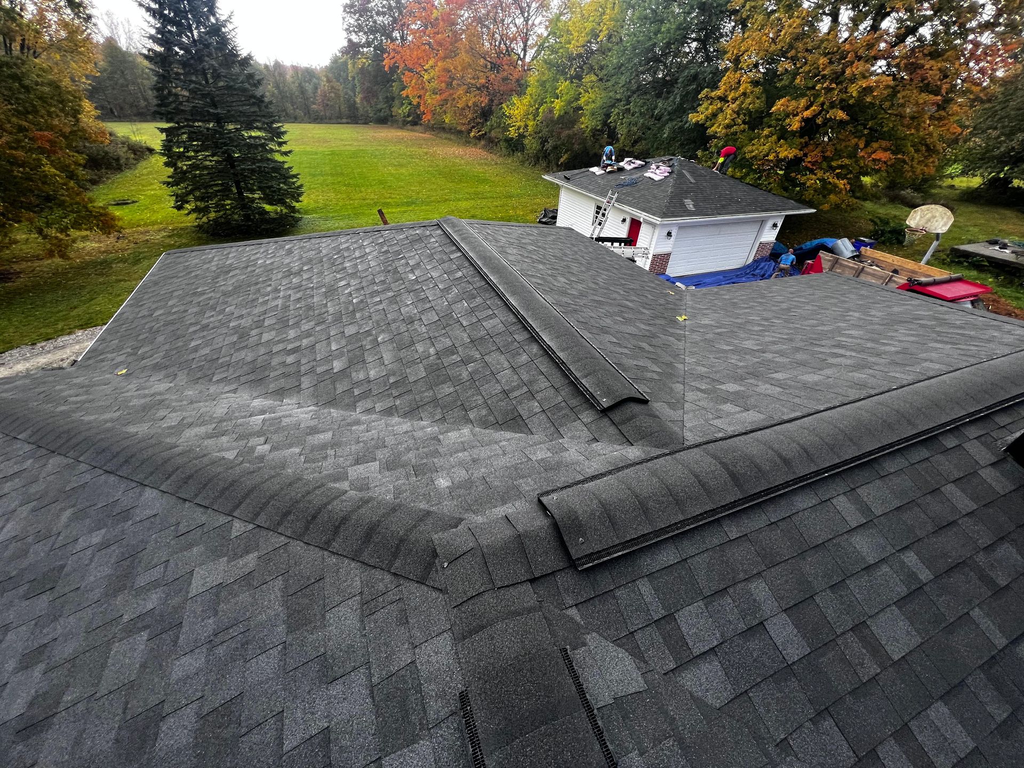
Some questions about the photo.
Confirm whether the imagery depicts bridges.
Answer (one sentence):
No, there isn't any bridge down there.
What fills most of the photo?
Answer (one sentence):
Most of the picture is covered by buildings.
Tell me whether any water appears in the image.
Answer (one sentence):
No, the picture contains no water.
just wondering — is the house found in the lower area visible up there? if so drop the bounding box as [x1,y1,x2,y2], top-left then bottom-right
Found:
[0,219,1024,768]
